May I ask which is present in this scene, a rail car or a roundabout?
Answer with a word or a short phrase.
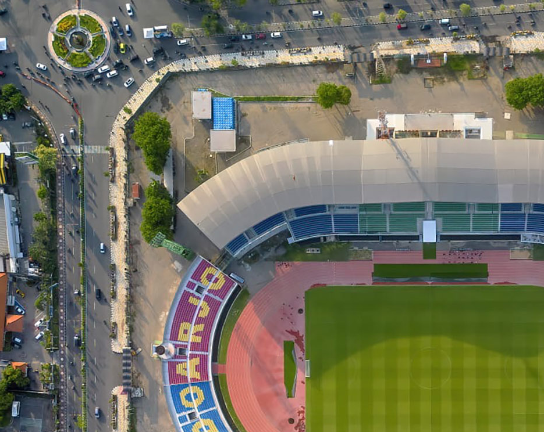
roundabout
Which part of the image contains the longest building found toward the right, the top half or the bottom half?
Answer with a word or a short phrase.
top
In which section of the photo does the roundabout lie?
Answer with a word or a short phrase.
top left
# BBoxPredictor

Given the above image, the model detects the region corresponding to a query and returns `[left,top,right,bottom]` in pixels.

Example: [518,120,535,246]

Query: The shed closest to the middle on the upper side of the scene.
[211,130,237,153]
